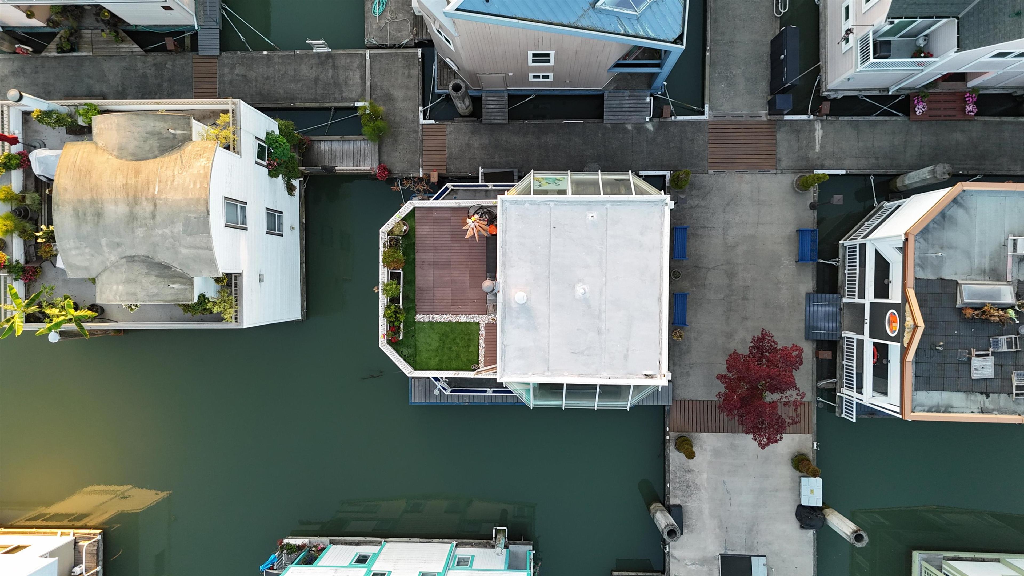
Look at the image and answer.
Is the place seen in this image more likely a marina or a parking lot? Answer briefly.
marina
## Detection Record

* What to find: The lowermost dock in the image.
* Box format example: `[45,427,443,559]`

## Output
[663,431,818,576]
